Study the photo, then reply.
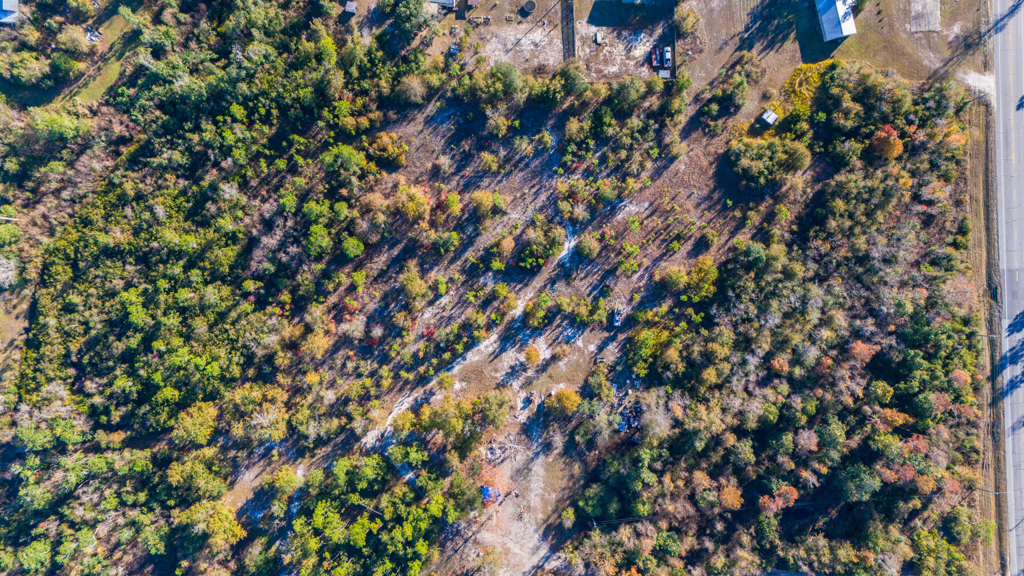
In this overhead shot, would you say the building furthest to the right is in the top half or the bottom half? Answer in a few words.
top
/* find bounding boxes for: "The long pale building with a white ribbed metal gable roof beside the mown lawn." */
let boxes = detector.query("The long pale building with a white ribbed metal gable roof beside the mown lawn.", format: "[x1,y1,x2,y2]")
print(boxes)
[811,0,857,44]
